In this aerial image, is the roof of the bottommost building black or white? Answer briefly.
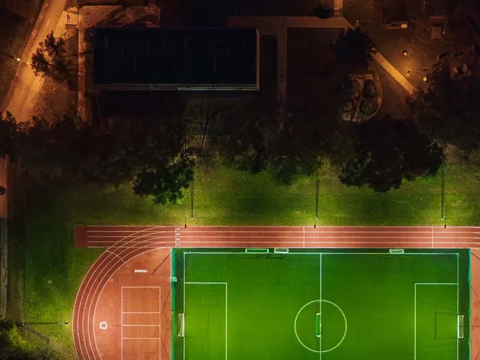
black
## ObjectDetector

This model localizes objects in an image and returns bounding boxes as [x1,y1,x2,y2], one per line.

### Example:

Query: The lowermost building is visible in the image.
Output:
[94,27,258,90]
